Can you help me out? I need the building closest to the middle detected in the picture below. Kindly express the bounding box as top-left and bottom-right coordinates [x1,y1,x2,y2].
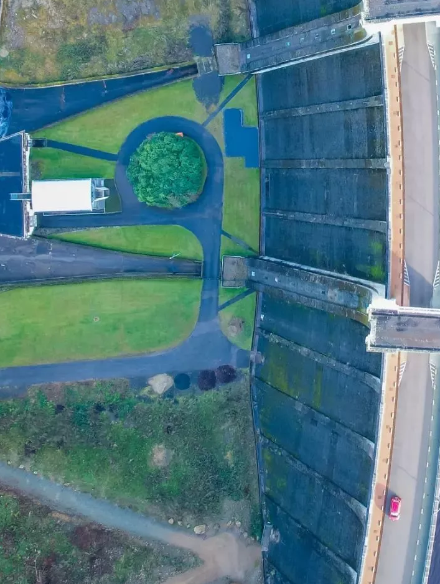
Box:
[221,255,257,288]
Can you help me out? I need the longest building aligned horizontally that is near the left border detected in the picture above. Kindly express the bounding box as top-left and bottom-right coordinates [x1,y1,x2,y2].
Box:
[12,178,116,213]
